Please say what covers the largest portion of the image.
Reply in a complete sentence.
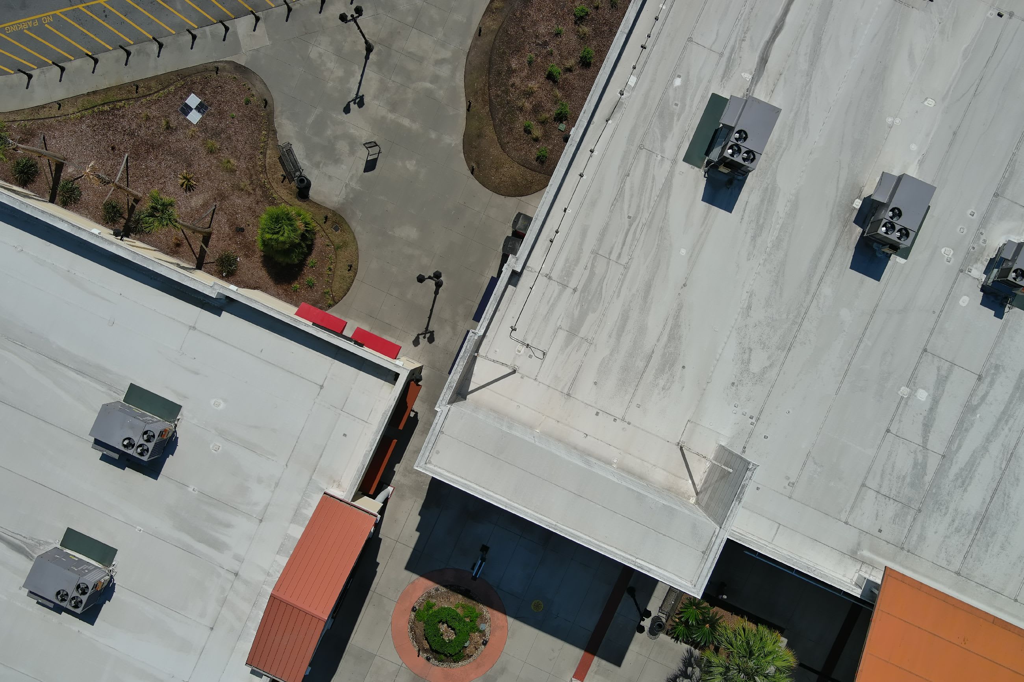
The bulk of the photo consists of buildings.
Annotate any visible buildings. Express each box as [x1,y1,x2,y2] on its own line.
[0,179,423,682]
[412,0,1024,628]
